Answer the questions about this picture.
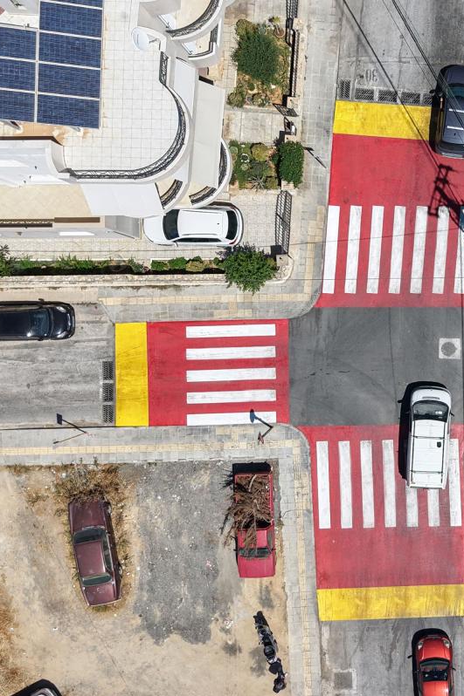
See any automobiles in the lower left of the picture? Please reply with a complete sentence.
Yes, you'll find an automobile in the lower left of the picture.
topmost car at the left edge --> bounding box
[0,296,80,345]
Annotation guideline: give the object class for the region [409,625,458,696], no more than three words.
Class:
car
